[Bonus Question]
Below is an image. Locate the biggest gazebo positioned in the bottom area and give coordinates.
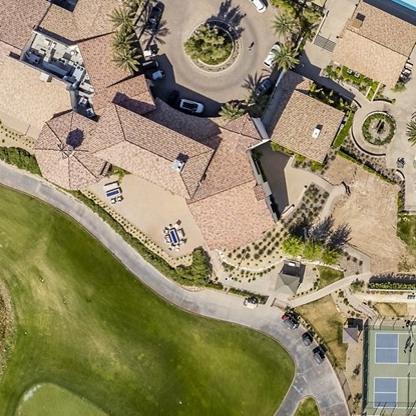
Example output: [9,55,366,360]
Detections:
[274,270,300,295]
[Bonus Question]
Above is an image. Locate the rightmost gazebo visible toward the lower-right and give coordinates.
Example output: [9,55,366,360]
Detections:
[342,323,358,344]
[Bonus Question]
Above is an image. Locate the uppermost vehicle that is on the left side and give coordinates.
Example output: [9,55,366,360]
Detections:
[148,5,163,29]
